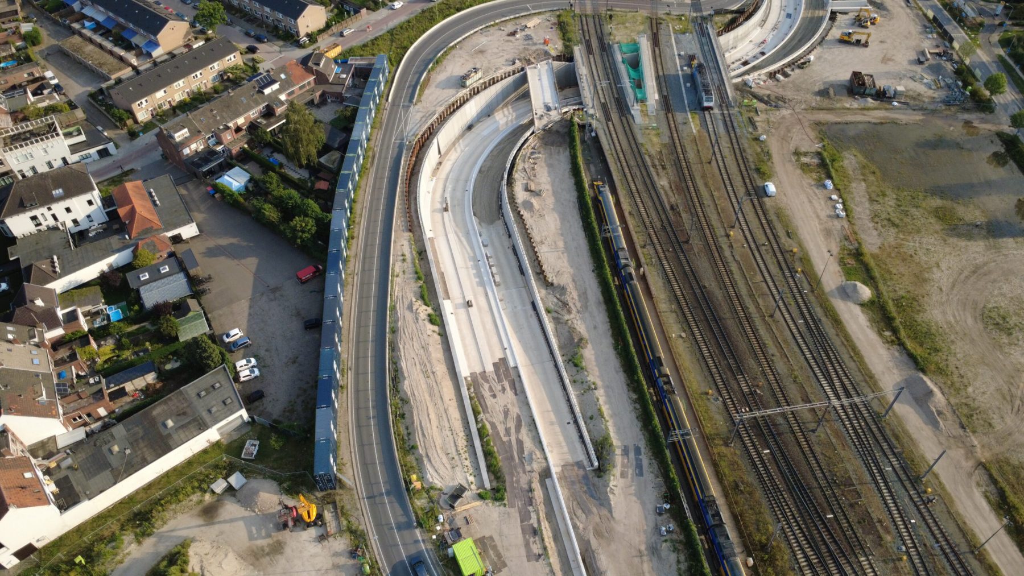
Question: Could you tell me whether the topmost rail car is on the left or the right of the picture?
right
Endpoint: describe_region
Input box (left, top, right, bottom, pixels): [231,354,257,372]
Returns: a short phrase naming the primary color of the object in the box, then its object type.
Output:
white car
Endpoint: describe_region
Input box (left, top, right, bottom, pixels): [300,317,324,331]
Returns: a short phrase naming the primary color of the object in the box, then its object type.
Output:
black car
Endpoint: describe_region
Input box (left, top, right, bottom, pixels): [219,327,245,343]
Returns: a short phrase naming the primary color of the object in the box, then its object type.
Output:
white car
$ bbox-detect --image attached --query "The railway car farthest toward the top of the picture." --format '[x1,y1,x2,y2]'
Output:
[691,58,714,108]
